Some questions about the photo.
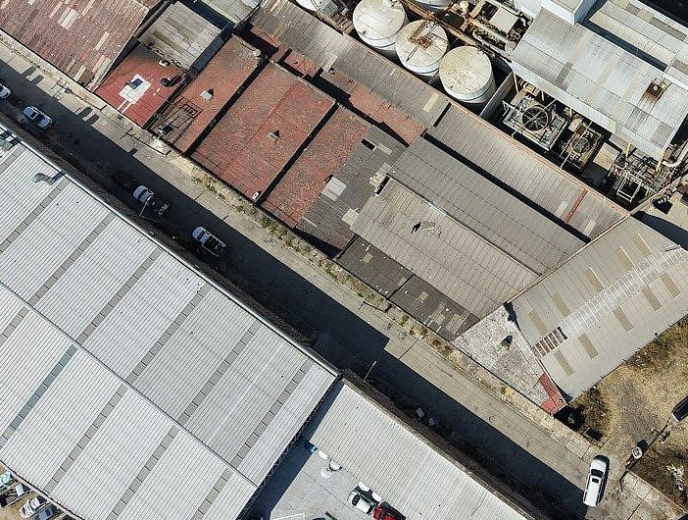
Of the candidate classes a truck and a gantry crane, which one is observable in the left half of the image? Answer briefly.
truck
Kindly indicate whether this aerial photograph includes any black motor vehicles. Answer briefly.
Yes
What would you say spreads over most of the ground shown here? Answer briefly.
buildings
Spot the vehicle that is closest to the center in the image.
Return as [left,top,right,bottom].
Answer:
[192,227,231,261]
